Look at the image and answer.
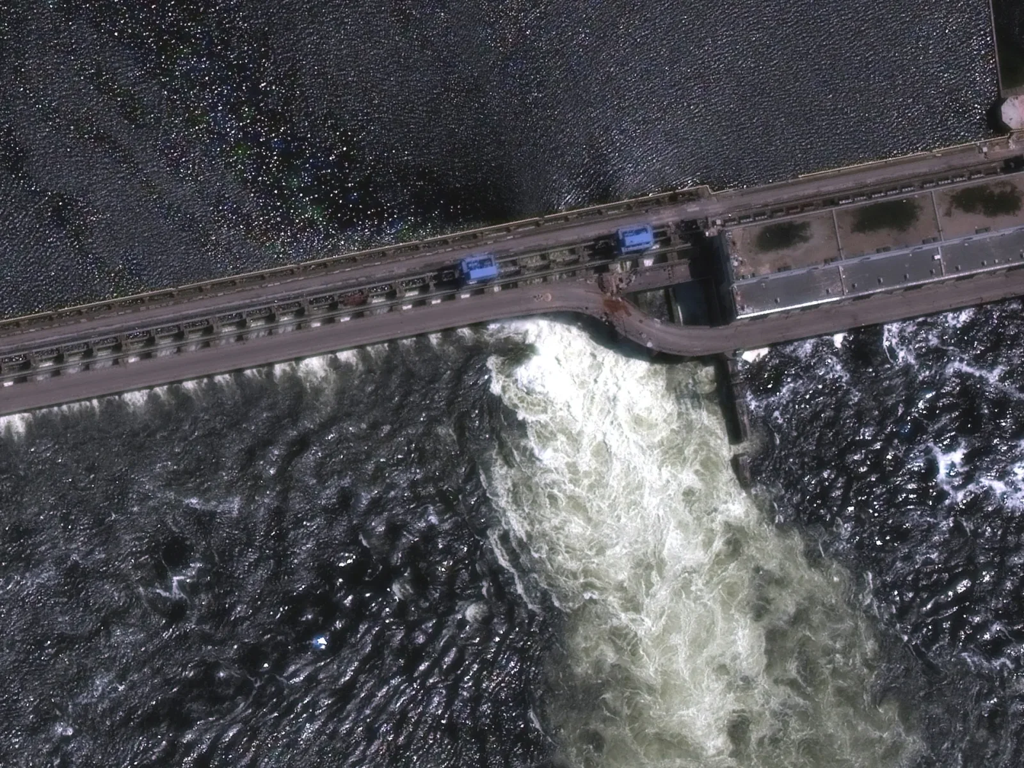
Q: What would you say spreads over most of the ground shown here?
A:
water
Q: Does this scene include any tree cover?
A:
No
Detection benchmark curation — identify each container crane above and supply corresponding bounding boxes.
[453,251,496,290]
[611,223,654,263]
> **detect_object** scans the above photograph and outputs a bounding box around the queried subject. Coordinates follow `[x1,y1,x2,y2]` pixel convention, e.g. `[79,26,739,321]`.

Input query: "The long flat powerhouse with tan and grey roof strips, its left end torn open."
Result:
[711,171,1024,320]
